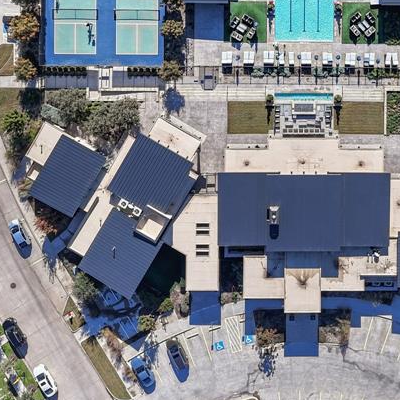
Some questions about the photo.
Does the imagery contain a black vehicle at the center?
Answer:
No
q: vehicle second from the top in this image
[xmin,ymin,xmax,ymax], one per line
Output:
[1,319,26,353]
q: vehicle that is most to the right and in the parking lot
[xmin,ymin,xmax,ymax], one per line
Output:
[166,341,189,374]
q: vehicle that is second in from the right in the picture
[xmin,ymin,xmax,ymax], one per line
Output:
[130,357,156,394]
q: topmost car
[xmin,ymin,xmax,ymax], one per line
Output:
[6,219,31,252]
